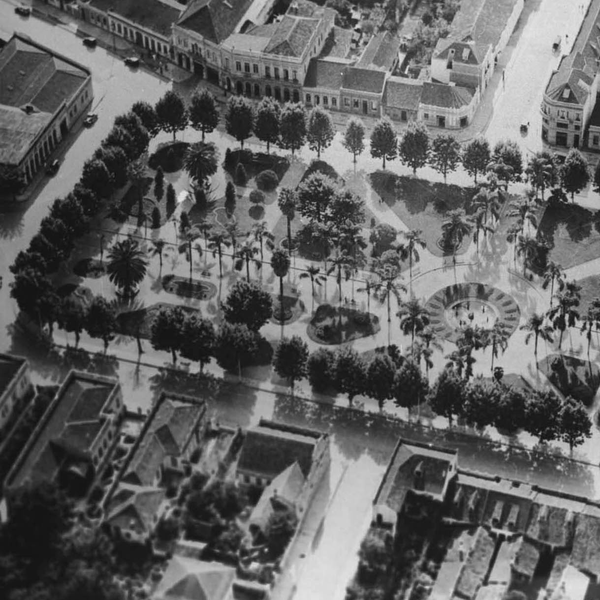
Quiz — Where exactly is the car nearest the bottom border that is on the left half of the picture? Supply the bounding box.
[46,157,61,172]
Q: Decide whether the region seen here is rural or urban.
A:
urban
